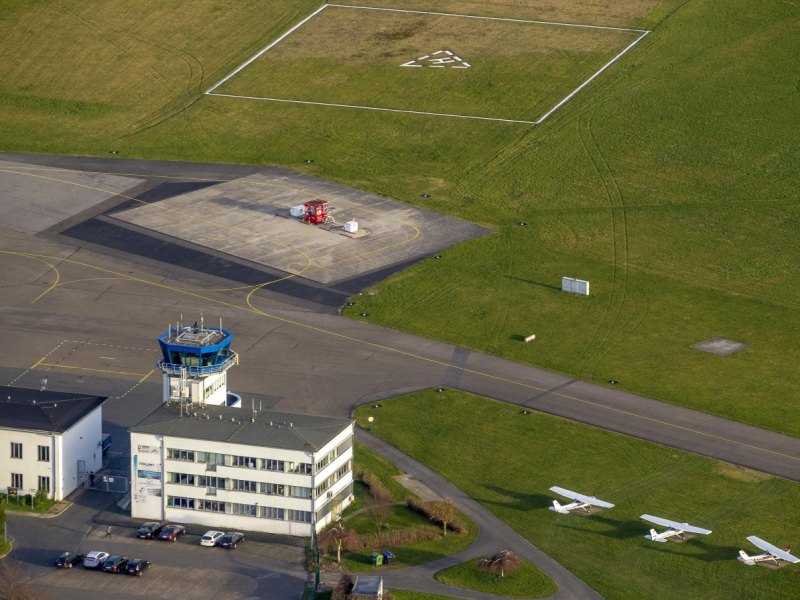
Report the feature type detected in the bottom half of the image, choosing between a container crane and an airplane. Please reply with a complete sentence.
Visible in the bottom half of the image is an airplane.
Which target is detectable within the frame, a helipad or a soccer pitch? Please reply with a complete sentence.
I can see a helipad in this picture.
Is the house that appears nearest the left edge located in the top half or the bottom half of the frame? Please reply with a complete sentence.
You can find the house that appears nearest the left edge in the bottom half.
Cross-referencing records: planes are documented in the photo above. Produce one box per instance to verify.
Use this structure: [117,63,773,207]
[729,533,800,569]
[637,509,714,542]
[541,482,617,516]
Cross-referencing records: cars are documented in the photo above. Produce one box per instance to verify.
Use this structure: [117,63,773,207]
[104,553,132,572]
[57,551,86,568]
[222,530,250,548]
[127,558,155,574]
[138,520,166,539]
[161,524,189,541]
[201,528,229,546]
[84,550,112,569]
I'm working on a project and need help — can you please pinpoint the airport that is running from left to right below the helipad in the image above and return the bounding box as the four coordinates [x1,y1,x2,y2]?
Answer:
[0,153,800,534]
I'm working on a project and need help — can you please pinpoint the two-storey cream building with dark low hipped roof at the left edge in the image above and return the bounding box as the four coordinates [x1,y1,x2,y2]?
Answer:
[0,388,112,500]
